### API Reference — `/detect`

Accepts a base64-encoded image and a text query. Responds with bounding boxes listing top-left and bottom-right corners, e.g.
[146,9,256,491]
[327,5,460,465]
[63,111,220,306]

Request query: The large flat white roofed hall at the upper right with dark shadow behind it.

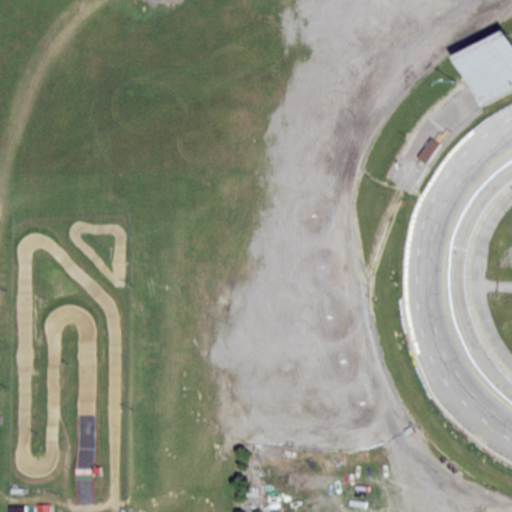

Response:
[450,30,512,110]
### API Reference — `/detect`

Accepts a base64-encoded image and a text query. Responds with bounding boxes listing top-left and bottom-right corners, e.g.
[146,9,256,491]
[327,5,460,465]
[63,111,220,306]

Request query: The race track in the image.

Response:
[408,104,512,460]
